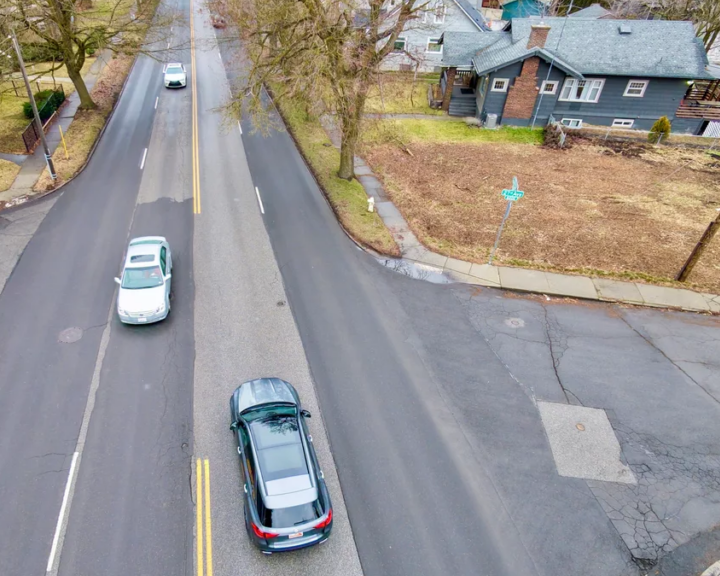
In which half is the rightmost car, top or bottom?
bottom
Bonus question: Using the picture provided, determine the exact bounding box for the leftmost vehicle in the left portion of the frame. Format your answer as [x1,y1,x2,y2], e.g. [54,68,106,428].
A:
[114,239,171,321]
